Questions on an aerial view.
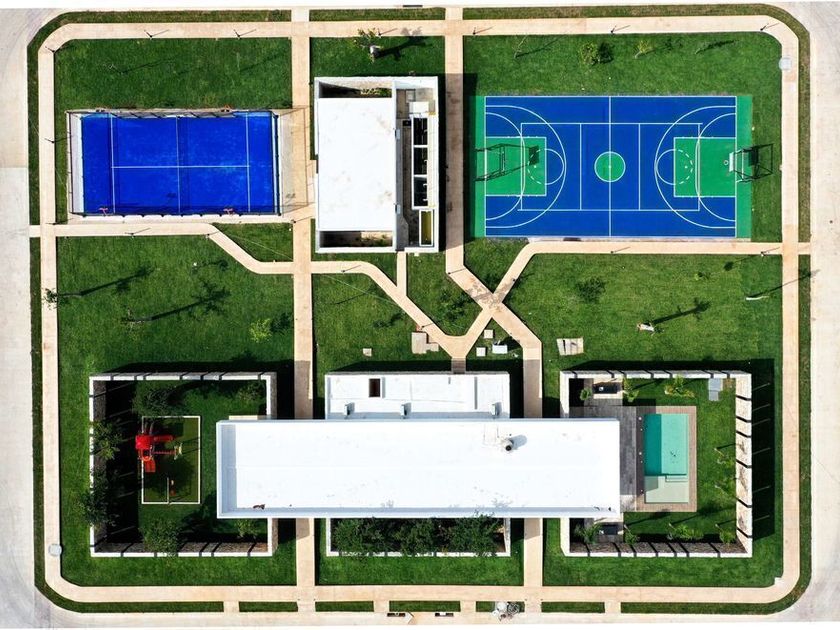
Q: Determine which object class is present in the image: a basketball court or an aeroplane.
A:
basketball court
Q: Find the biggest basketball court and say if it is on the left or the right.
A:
right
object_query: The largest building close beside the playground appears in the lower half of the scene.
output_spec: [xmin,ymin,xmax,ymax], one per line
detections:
[217,372,620,518]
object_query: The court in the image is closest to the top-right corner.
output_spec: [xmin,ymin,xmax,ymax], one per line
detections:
[474,96,751,237]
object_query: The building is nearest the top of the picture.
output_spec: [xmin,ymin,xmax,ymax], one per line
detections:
[315,77,438,253]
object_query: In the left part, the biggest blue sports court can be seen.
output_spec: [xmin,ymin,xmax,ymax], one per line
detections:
[66,110,281,222]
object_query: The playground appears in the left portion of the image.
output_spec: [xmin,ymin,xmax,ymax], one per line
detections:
[140,416,201,505]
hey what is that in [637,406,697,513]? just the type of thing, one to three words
swimming pool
